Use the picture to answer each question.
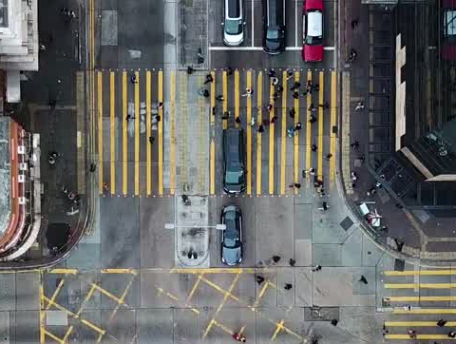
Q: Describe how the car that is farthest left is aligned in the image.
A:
from top to bottom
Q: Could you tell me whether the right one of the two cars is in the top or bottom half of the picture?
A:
top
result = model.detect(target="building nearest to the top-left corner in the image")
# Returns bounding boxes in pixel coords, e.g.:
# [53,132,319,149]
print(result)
[0,0,59,82]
